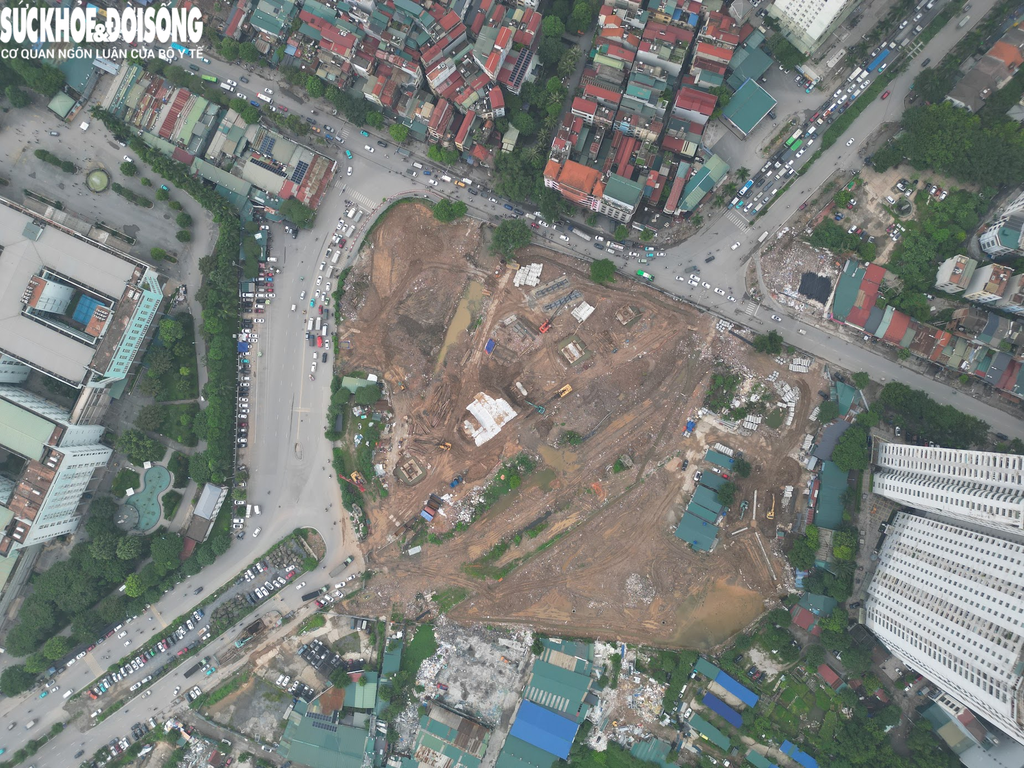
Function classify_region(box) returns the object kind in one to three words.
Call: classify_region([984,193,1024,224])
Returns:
house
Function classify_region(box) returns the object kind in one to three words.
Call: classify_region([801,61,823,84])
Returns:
truck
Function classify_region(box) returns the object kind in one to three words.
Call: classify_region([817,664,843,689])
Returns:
shed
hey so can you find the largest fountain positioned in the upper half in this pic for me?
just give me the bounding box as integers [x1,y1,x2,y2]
[86,168,110,192]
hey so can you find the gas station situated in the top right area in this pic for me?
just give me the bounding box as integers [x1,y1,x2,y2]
[722,76,777,136]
